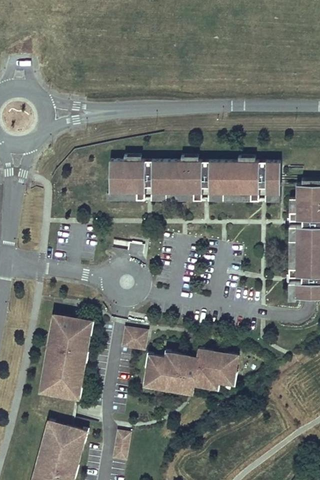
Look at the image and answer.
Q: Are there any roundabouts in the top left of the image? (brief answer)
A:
Yes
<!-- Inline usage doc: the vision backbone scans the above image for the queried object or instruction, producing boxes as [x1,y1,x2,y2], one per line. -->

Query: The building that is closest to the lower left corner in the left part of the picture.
[33,421,91,480]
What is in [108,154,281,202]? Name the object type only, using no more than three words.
building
